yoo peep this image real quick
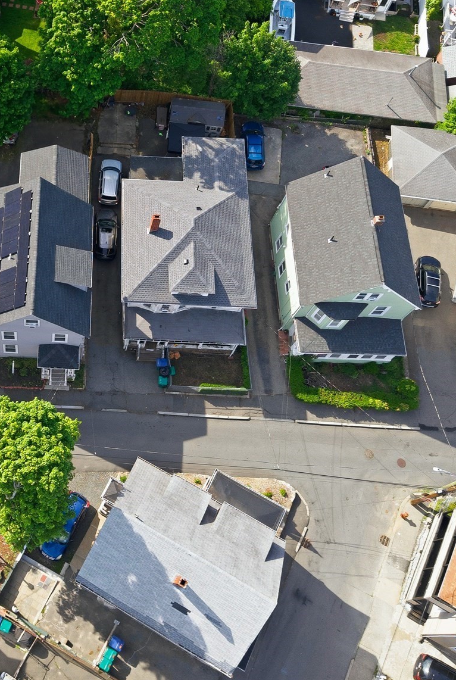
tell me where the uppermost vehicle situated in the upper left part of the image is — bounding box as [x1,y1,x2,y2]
[96,157,124,208]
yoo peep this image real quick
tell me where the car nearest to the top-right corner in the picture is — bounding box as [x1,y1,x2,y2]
[242,121,268,170]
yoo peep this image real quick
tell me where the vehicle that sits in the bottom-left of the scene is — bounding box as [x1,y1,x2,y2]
[43,489,93,561]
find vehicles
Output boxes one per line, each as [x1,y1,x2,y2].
[43,489,93,561]
[416,254,448,310]
[410,650,456,680]
[94,208,120,262]
[96,157,124,208]
[242,121,268,170]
